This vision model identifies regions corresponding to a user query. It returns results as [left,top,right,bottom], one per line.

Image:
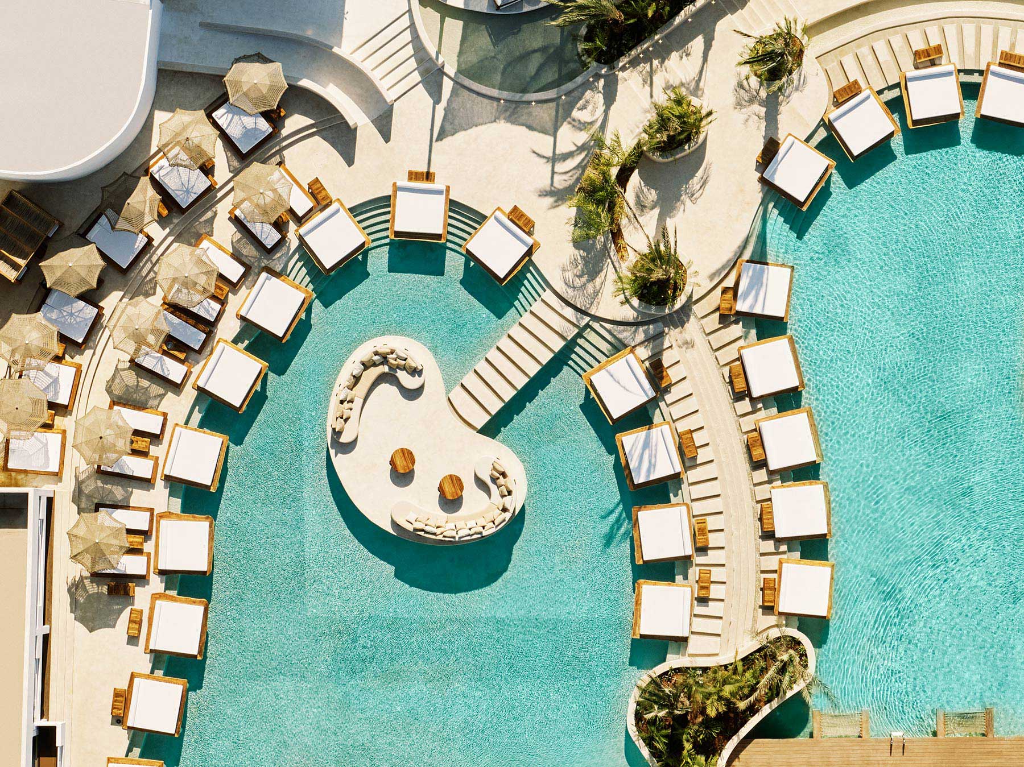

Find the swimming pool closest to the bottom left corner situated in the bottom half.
[126,195,692,767]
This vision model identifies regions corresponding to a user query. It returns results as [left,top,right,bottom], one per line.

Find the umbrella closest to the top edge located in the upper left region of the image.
[223,50,290,116]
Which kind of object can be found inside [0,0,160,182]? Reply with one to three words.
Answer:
building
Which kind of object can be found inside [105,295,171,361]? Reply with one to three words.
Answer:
umbrella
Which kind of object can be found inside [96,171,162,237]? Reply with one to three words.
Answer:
umbrella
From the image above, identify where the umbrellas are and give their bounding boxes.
[96,171,162,237]
[0,376,50,439]
[155,243,221,309]
[156,107,221,172]
[0,311,61,374]
[70,405,134,469]
[223,50,290,116]
[231,160,294,223]
[39,231,105,298]
[105,295,171,361]
[67,507,132,572]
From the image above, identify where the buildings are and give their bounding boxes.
[0,0,160,182]
[0,485,66,767]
